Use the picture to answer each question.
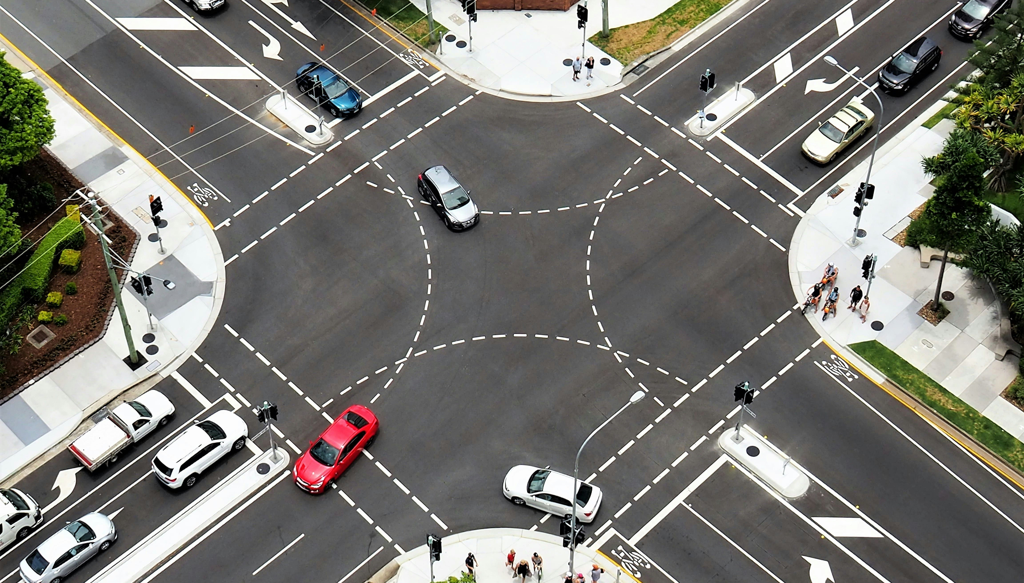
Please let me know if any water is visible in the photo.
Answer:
No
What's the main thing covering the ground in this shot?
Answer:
paved ground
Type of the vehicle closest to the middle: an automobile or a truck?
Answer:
automobile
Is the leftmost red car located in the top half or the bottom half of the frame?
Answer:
bottom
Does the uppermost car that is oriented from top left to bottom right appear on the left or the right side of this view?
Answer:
left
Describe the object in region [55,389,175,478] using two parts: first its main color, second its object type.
white truck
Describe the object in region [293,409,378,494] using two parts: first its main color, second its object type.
red car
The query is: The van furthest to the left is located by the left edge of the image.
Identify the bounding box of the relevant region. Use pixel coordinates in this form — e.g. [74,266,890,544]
[0,494,40,552]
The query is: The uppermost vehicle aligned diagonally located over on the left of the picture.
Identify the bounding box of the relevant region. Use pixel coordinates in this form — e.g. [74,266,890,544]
[292,59,365,118]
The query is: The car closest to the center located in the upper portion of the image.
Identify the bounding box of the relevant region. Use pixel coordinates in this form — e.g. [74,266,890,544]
[417,164,479,230]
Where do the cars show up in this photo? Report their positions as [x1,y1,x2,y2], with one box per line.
[292,59,365,118]
[186,0,226,12]
[876,34,946,94]
[293,409,378,494]
[500,464,605,523]
[14,511,118,583]
[151,409,249,492]
[417,164,479,230]
[949,0,1014,39]
[802,101,874,163]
